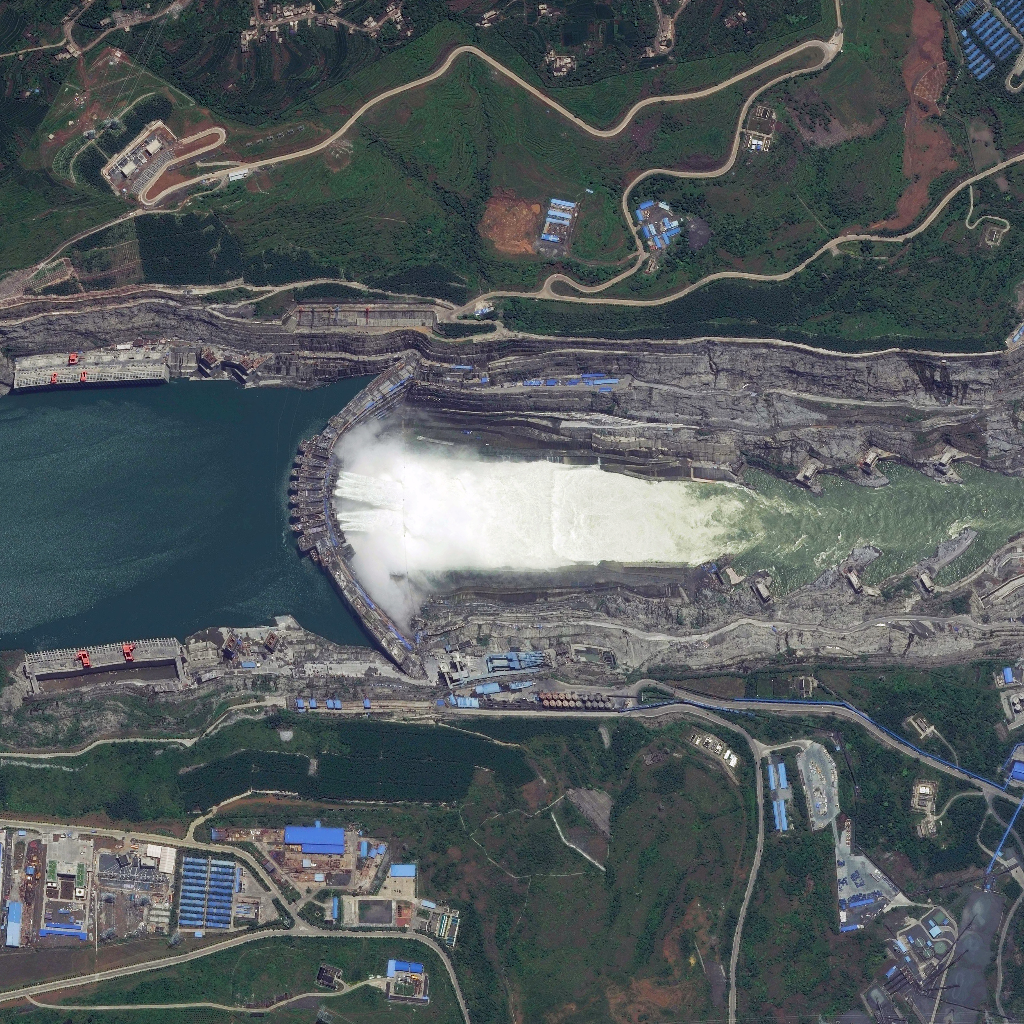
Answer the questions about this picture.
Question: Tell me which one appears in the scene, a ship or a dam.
dam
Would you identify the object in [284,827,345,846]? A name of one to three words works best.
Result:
building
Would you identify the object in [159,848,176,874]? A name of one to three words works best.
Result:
building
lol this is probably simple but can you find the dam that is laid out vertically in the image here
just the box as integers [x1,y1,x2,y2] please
[289,353,429,680]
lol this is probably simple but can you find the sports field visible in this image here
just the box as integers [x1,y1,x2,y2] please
[359,900,392,923]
